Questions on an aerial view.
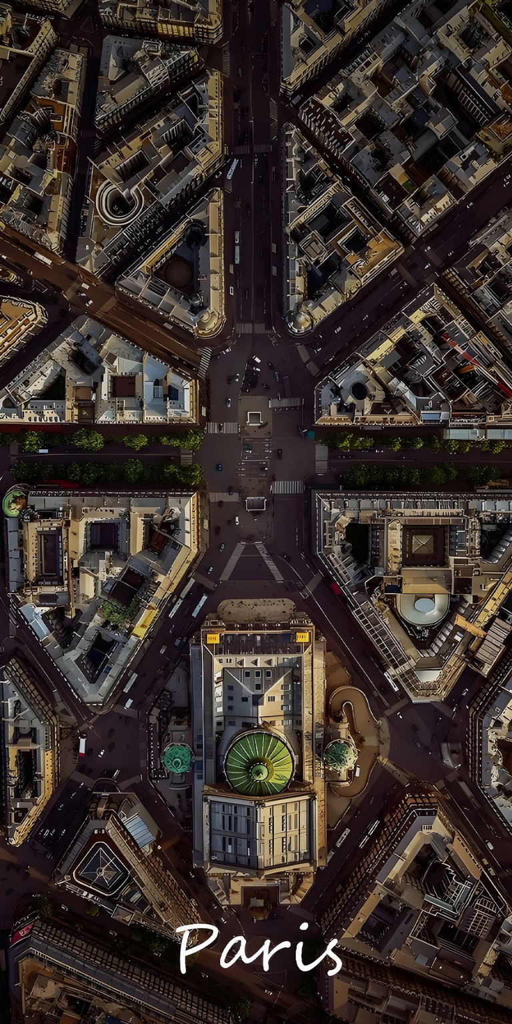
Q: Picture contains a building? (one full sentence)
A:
Yes, a building can be made out from above.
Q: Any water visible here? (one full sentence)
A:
No, the scene doesn't show any water.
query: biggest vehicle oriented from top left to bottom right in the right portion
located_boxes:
[381,674,396,692]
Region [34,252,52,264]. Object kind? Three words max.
vehicle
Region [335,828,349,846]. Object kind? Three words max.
vehicle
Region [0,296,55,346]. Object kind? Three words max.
building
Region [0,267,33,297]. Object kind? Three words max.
building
